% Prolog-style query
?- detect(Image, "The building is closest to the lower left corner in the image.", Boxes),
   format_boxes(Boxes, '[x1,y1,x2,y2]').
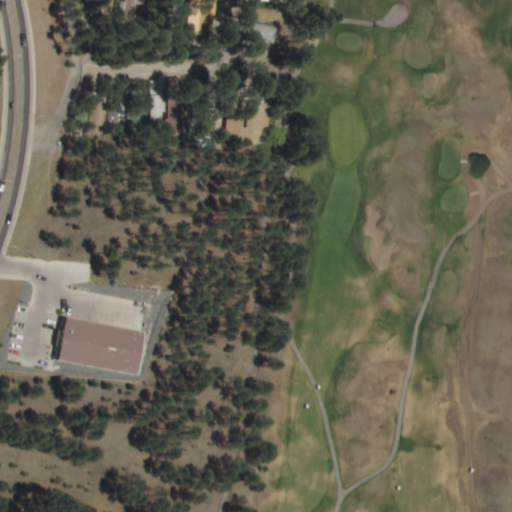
[54,317,146,376]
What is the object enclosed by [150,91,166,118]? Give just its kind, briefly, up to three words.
house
